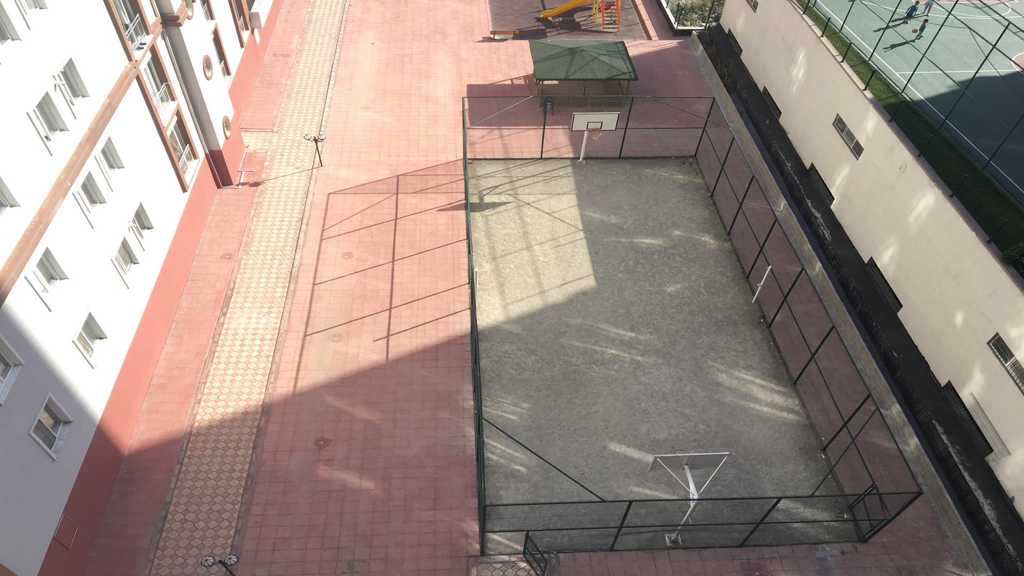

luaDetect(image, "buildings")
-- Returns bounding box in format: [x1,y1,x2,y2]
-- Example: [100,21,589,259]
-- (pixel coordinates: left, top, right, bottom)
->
[0,0,283,576]
[713,0,1024,576]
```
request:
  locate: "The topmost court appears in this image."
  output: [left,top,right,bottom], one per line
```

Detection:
[804,0,1024,213]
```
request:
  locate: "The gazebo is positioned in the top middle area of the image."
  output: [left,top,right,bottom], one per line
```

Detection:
[527,40,638,107]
